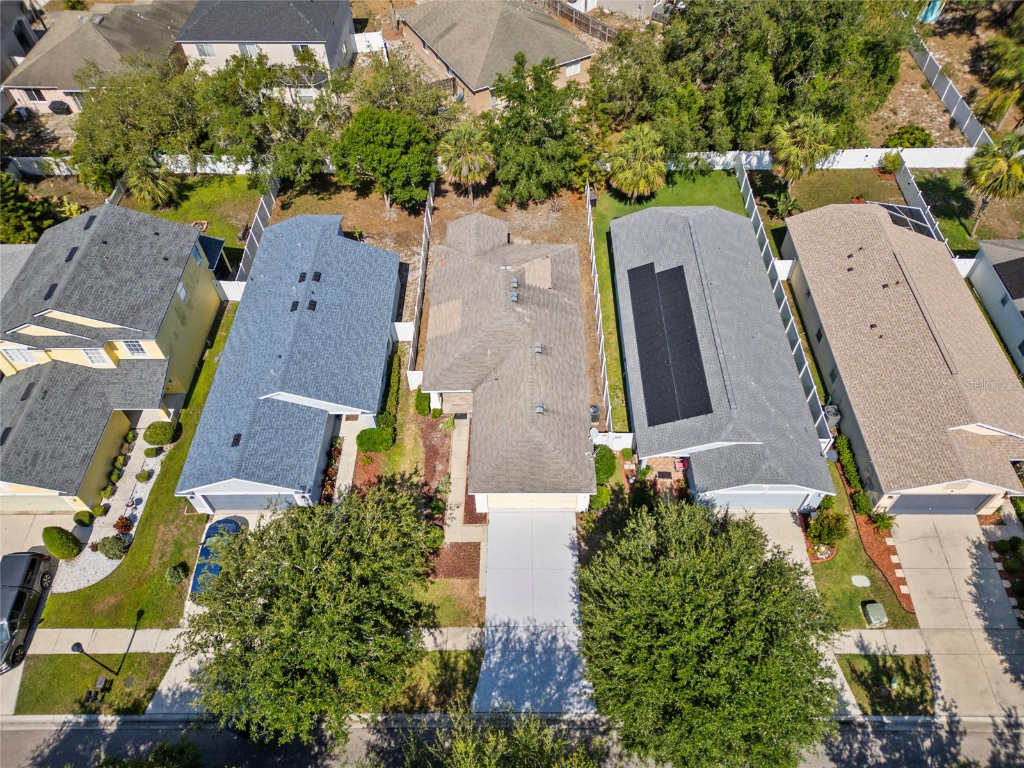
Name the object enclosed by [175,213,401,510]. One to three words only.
house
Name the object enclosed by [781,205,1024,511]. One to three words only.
house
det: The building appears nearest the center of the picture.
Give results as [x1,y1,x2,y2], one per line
[418,213,600,510]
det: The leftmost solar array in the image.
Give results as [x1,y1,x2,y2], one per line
[626,261,714,427]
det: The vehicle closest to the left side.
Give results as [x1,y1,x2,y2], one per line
[0,565,52,663]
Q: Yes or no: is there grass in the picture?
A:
Yes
